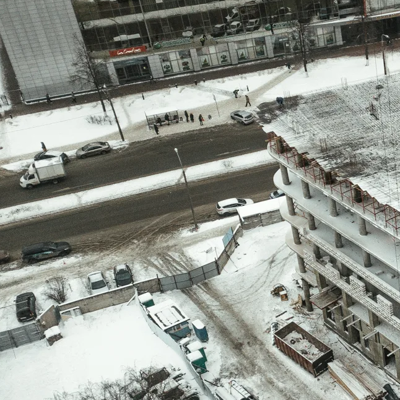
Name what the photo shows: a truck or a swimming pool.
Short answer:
truck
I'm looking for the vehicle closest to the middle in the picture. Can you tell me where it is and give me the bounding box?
[216,195,253,215]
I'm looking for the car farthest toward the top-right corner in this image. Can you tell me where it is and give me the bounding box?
[227,108,257,124]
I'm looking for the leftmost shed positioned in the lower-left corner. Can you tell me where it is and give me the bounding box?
[43,325,66,346]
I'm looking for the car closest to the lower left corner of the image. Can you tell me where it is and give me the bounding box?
[14,291,38,322]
